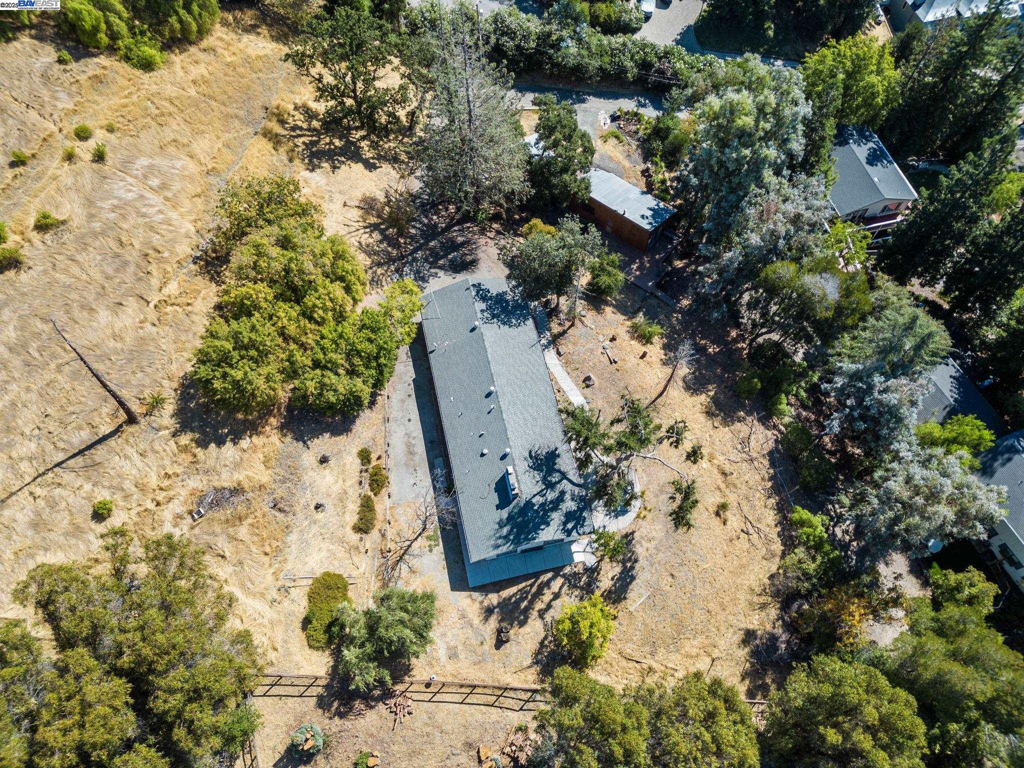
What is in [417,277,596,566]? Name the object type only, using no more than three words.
house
